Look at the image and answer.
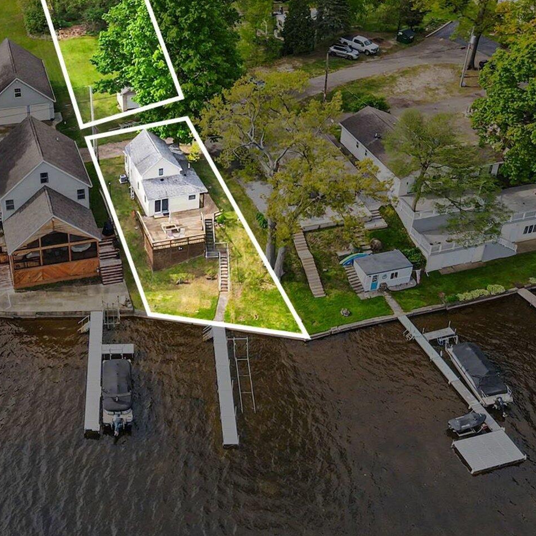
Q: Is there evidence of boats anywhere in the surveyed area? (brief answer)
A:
Yes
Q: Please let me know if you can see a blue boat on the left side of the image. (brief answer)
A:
No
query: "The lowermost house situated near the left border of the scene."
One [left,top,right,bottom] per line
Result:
[0,117,105,289]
